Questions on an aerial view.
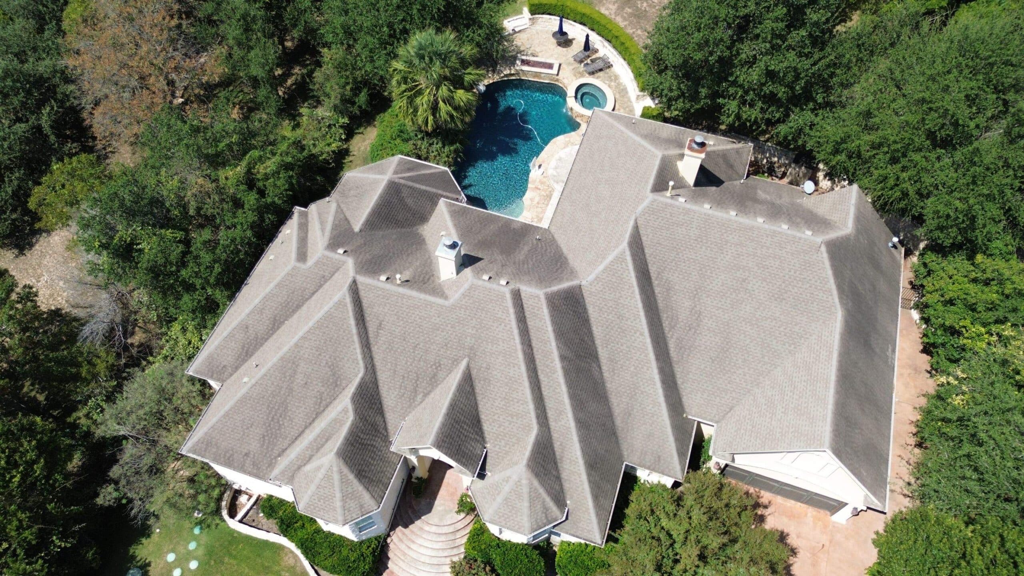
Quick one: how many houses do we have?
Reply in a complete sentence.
There is 1 house in the image.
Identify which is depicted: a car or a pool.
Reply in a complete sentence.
Looking from above, you can make out a pool.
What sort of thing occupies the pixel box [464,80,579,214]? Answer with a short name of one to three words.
swimming pool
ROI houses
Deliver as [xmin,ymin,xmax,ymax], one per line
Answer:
[179,106,906,553]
